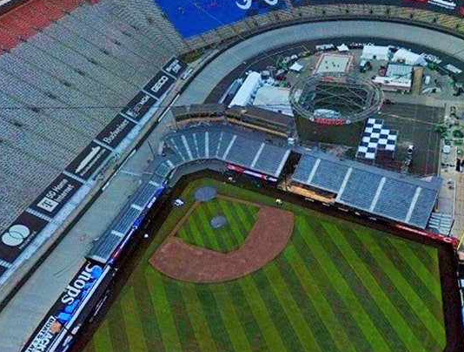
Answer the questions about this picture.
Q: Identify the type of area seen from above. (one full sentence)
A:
The area seen from above is a sports ground.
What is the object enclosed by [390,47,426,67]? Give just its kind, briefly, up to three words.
tent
